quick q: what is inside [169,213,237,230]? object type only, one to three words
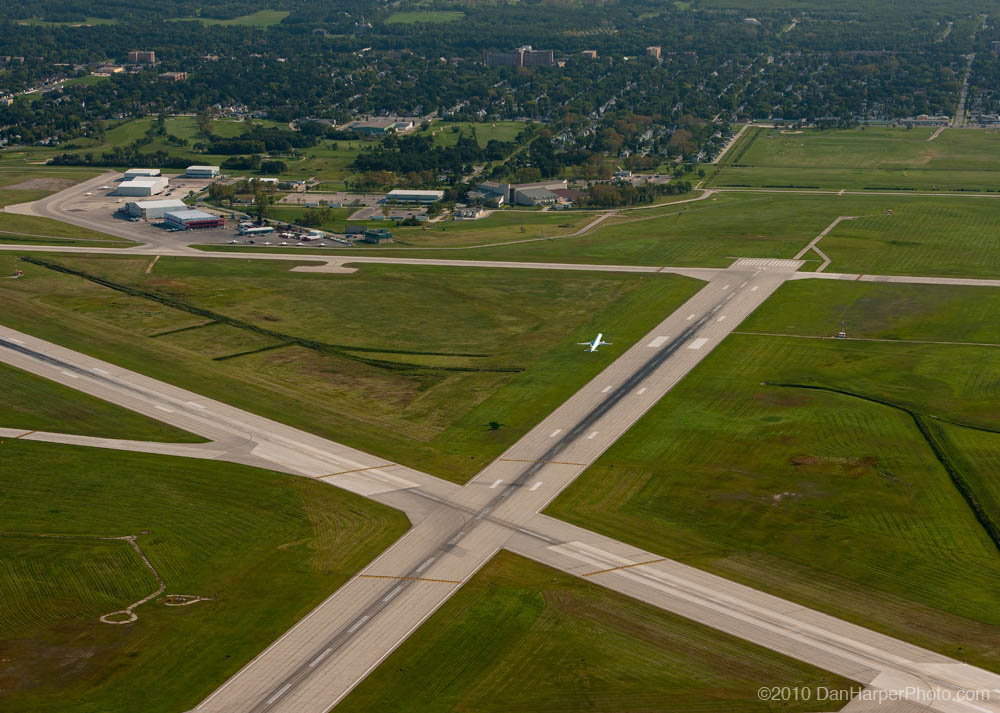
building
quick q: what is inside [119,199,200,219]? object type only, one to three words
hangar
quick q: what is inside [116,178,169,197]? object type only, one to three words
hangar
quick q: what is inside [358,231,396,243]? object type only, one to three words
building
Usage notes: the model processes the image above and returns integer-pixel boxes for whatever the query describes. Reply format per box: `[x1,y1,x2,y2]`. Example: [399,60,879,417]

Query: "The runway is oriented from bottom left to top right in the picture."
[187,257,809,713]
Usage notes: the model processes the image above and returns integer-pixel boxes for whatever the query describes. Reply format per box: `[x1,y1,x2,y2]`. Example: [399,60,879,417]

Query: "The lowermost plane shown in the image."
[576,333,611,350]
